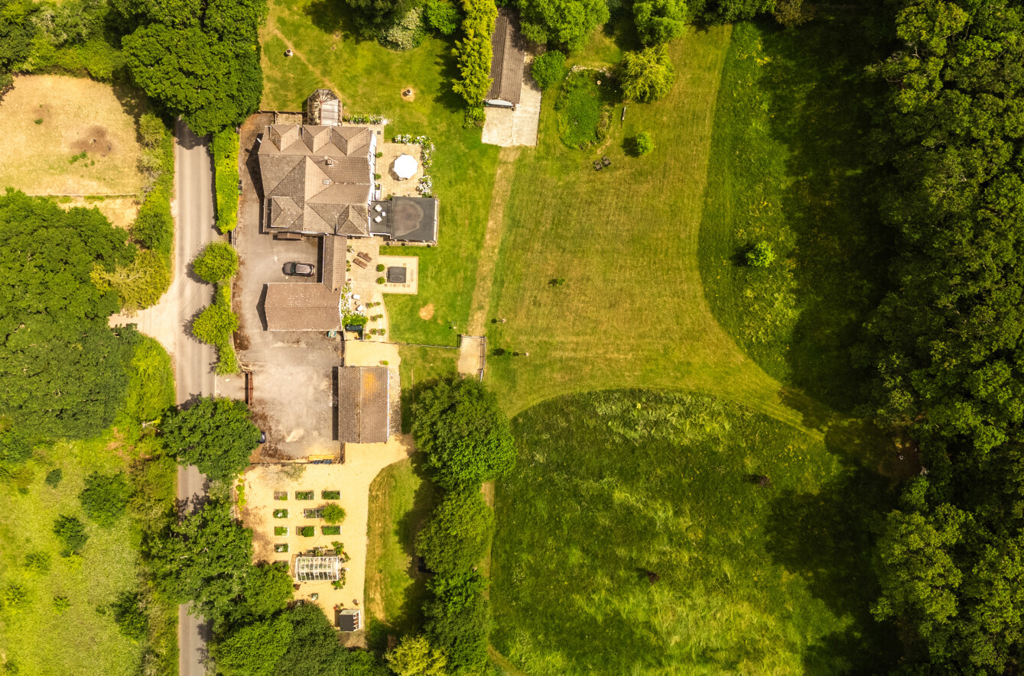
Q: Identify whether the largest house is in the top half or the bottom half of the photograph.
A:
top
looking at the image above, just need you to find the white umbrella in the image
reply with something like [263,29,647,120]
[395,155,417,178]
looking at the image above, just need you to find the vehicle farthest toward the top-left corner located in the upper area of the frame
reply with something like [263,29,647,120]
[283,259,317,276]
